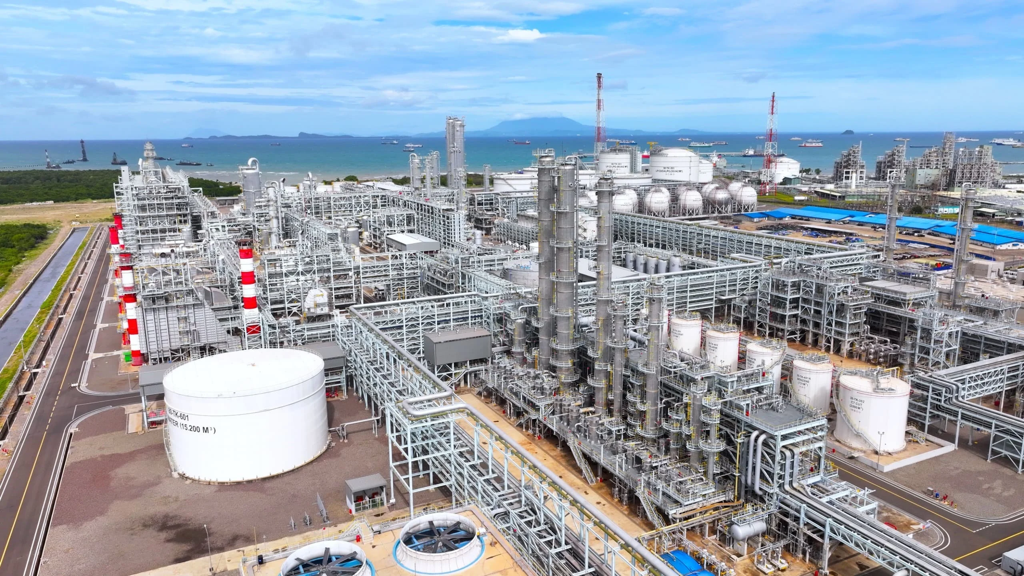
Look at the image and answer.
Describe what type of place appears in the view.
industrial area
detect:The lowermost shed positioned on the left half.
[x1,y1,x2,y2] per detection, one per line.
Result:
[340,461,389,513]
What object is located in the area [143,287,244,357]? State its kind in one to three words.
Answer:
building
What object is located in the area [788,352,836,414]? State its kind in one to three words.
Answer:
storage tank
